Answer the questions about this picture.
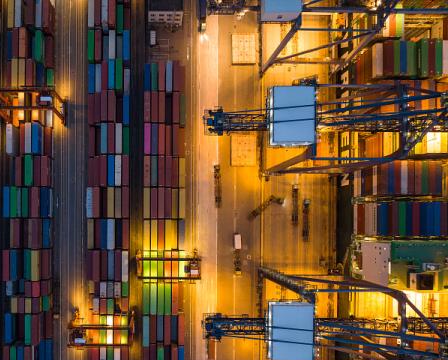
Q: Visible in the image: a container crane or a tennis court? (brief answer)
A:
container crane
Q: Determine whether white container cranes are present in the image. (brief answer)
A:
No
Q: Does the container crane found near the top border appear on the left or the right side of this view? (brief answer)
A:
right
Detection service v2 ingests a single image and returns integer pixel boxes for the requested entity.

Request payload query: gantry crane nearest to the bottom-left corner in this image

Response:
[68,310,137,348]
